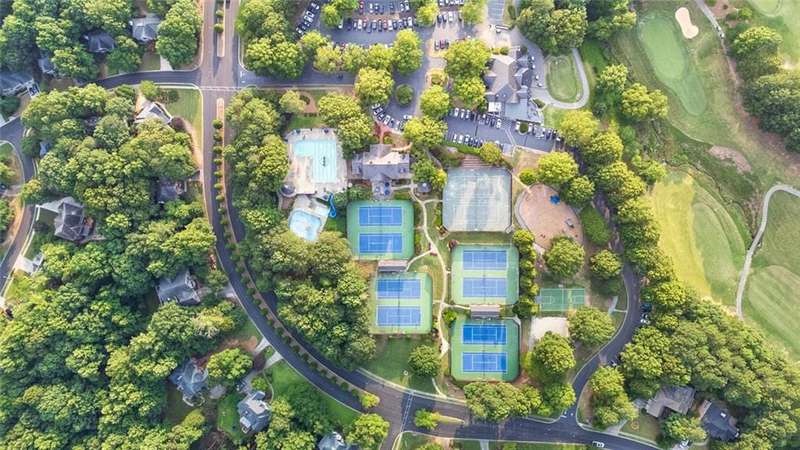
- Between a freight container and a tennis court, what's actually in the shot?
tennis court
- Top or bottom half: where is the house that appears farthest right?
bottom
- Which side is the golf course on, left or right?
right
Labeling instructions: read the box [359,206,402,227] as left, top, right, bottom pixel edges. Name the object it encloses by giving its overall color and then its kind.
blue tennis court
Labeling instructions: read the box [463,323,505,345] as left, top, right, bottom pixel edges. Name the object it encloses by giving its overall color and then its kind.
blue tennis court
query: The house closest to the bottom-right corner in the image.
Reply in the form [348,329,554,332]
[692,399,738,440]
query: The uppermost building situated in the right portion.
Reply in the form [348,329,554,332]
[481,52,535,121]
